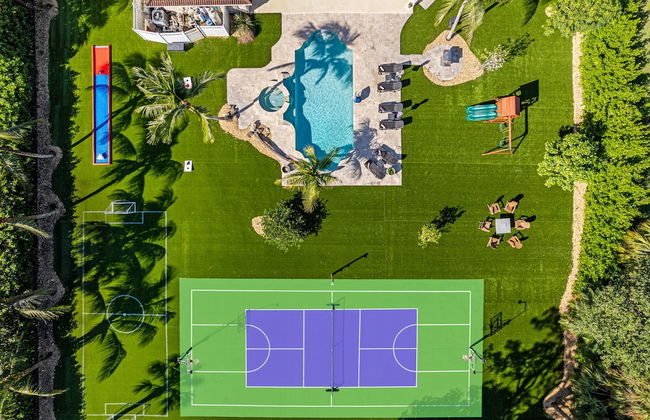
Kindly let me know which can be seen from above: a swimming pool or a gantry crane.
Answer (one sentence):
It is a swimming pool that can be seen here.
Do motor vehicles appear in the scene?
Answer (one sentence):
No, the photo shows no motor vehicle.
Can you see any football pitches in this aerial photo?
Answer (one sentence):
Yes, looking at the shot, I can spot a football pitch.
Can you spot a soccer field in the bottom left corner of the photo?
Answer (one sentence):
Yes, I can see a soccer field in the bottom left corner of the photo.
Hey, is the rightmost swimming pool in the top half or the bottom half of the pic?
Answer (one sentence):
The rightmost swimming pool sits in the top half of the picture.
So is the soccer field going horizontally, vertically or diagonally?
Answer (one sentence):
The soccer field is oriented vertically.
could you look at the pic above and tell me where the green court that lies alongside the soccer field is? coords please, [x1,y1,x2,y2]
[180,279,484,417]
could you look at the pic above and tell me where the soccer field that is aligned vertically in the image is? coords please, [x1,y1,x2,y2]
[83,211,167,416]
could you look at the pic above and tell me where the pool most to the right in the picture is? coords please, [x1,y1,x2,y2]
[281,27,355,172]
